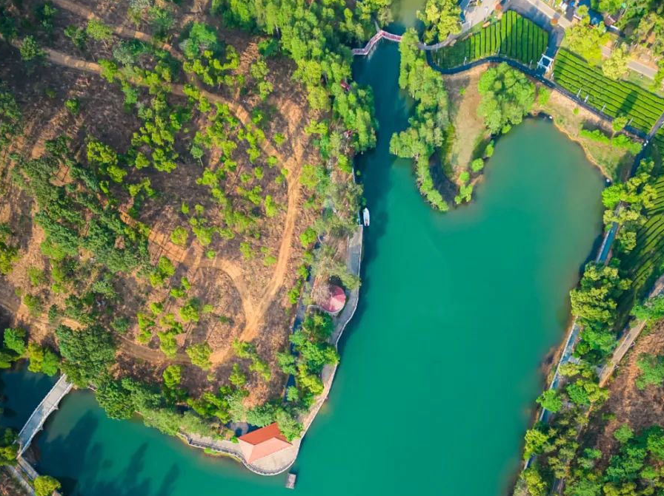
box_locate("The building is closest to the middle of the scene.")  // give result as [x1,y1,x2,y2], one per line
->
[317,284,347,315]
